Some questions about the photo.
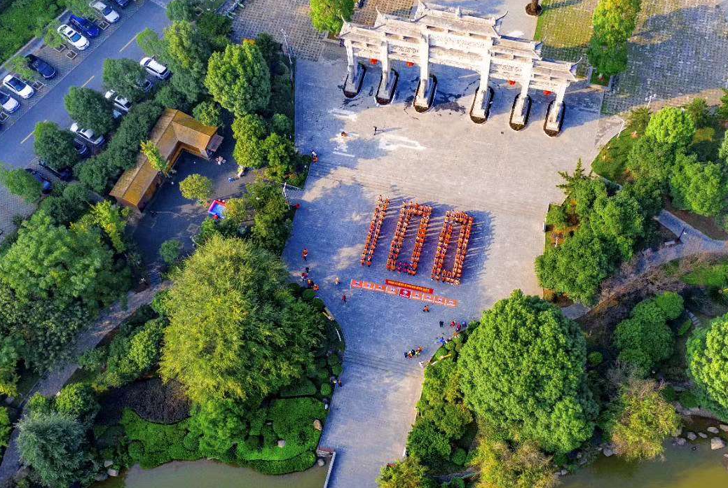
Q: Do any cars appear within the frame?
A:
Yes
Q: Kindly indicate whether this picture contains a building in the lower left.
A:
No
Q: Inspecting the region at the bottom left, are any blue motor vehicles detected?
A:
No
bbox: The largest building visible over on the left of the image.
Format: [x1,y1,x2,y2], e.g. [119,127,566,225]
[110,103,240,218]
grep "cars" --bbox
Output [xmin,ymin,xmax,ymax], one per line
[0,70,41,103]
[65,131,95,161]
[55,20,94,52]
[102,87,134,114]
[63,9,105,41]
[106,0,134,11]
[135,52,173,83]
[34,160,79,183]
[24,165,59,197]
[65,119,110,151]
[23,50,62,82]
[0,85,27,116]
[130,72,157,95]
[88,0,125,26]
